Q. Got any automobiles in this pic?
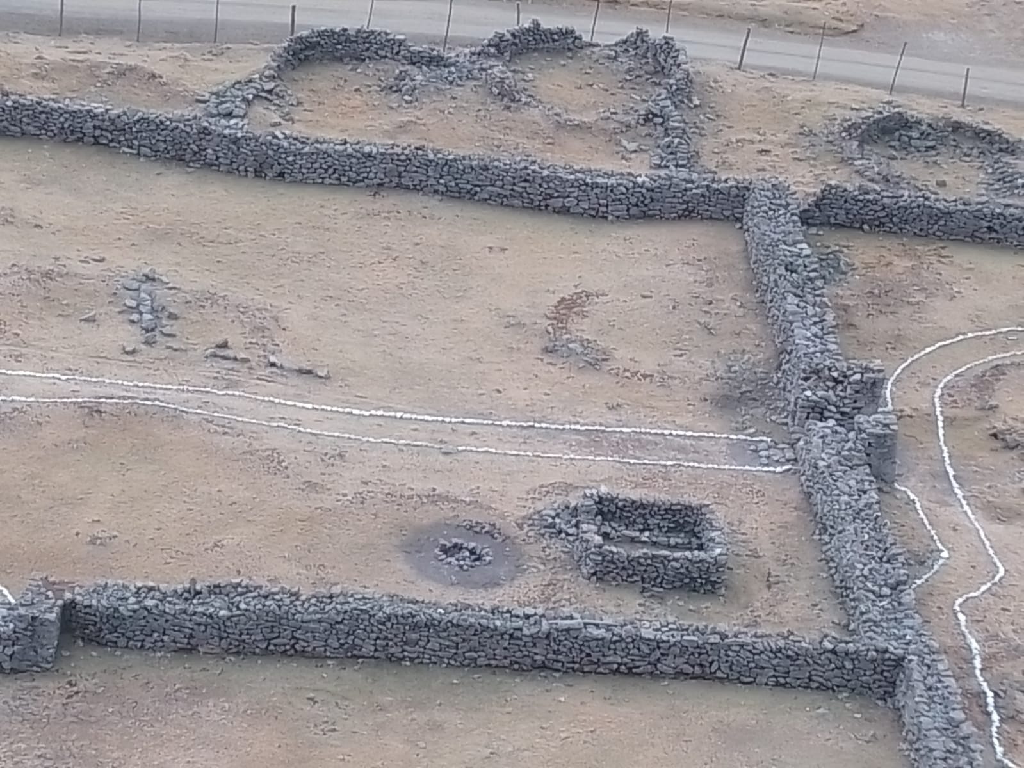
No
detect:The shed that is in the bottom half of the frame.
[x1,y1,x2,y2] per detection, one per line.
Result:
[580,491,736,597]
